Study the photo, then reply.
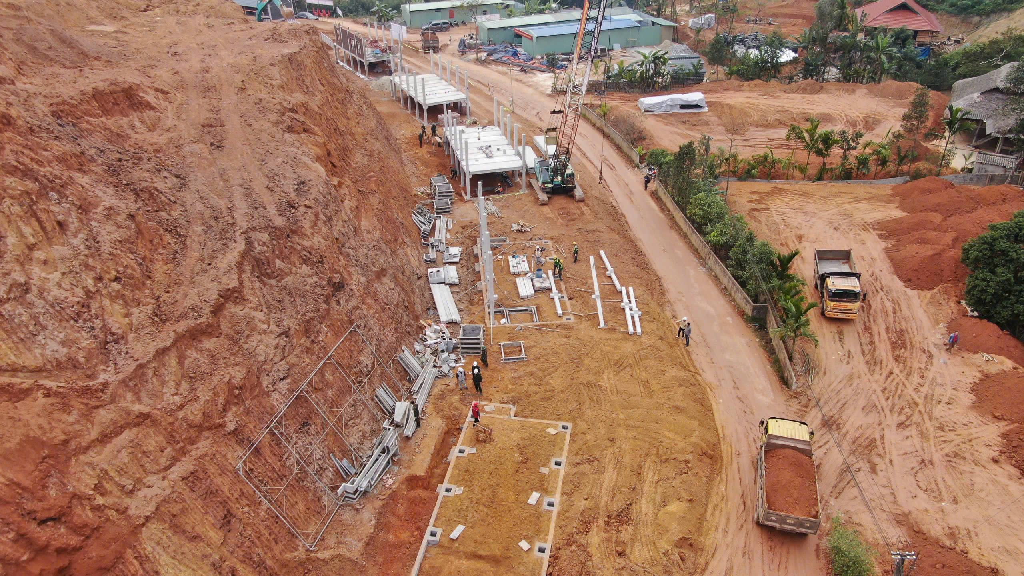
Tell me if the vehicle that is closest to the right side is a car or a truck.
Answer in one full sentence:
It turns out the vehicle that is closest to the right side is a truck.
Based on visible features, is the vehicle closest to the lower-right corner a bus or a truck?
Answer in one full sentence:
The vehicle closest to the lower-right corner in the image is a truck.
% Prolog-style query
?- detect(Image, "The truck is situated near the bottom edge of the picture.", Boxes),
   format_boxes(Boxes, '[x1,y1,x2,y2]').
[751,403,821,551]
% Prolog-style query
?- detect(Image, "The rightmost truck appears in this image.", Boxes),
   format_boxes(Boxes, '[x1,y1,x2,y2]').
[811,246,869,323]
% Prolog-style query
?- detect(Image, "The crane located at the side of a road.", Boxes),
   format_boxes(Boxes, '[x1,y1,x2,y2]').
[526,0,618,203]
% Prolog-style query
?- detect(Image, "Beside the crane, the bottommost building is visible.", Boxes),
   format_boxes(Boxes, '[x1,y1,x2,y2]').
[443,98,526,199]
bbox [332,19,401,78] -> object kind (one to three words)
house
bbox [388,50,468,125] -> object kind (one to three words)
house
